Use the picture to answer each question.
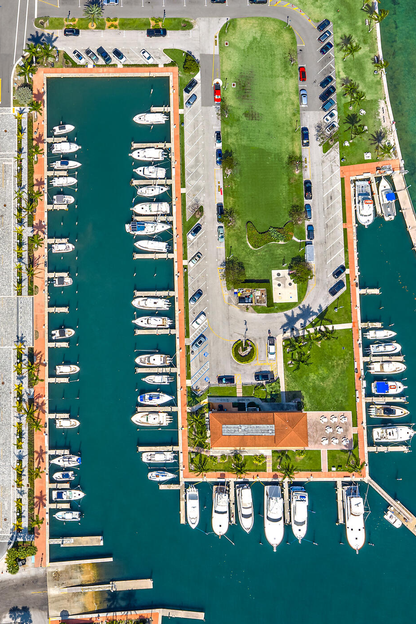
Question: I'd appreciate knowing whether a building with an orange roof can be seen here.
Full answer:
Yes, the image includes a building with an orange roof.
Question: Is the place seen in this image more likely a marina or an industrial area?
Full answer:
What you see here is a marina.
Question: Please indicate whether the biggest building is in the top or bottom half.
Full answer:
The biggest building sits in the bottom half of the picture.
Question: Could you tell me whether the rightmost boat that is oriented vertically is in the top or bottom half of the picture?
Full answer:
It is in the top half that the rightmost boat that is oriented vertically appears.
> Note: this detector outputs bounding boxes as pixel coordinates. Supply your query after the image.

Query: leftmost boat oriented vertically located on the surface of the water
[186,485,199,529]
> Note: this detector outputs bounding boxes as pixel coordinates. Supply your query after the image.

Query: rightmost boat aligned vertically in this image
[378,175,397,222]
